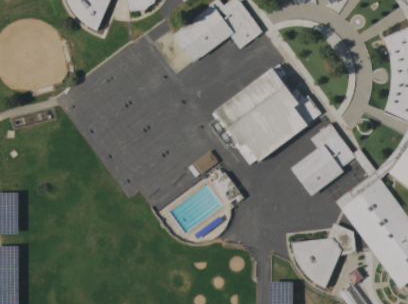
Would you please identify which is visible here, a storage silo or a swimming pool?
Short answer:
swimming pool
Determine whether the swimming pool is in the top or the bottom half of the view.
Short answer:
bottom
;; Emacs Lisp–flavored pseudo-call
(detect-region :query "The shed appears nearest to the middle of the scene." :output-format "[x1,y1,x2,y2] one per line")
[188,152,218,177]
